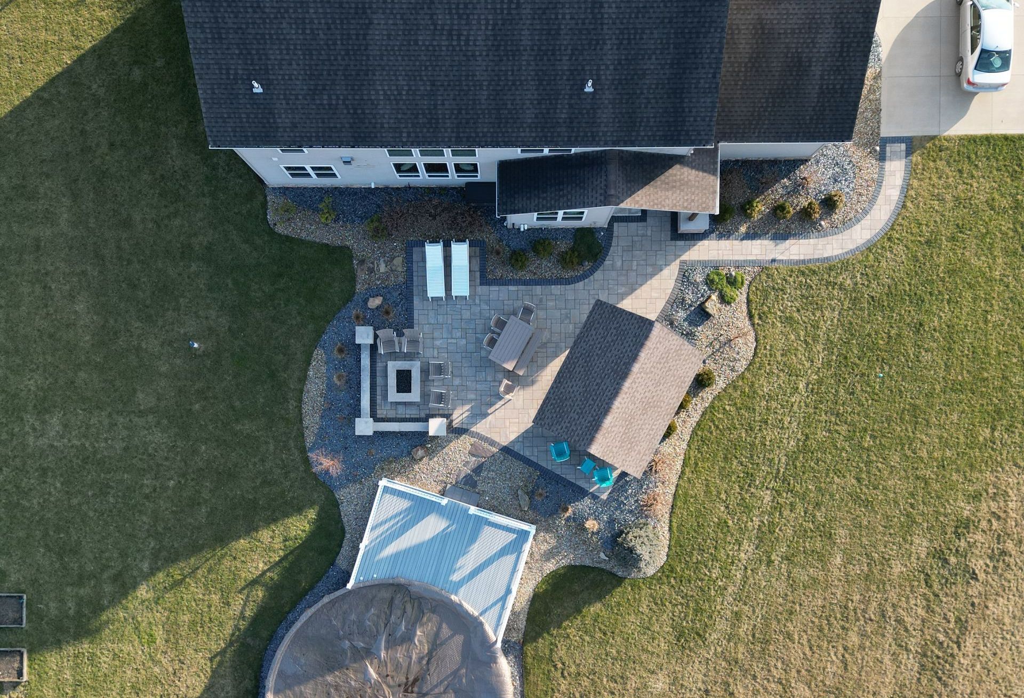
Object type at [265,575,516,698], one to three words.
swimming pool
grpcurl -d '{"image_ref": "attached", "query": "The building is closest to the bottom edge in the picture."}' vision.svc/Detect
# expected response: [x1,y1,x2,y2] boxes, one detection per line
[531,299,705,480]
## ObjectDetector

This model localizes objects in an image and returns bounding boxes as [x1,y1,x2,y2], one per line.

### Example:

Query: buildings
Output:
[183,0,881,233]
[531,299,705,480]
